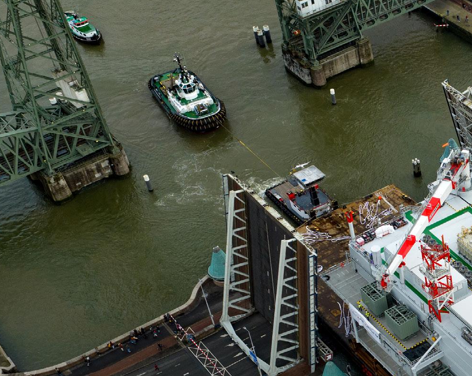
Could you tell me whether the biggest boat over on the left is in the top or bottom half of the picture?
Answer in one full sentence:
The biggest boat over on the left is in the top half of the image.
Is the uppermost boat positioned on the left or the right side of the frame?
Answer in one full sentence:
The uppermost boat appears in the left half of the scene.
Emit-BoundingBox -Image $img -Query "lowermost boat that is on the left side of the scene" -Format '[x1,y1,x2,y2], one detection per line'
[146,53,231,133]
